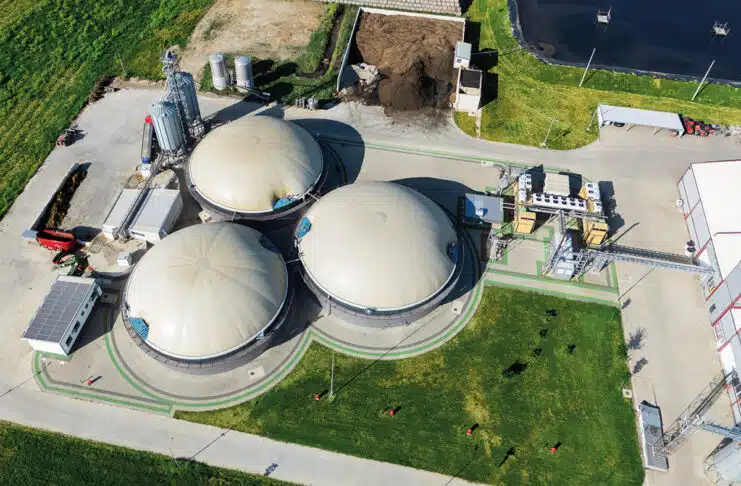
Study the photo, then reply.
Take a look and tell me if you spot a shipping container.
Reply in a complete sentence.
Yes, a shipping container appears in the view.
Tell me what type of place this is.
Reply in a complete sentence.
What you see here is an industrial area.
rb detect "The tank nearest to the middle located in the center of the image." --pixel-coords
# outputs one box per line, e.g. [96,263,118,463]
[299,181,460,328]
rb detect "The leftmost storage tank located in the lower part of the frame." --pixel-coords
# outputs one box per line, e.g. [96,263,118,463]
[123,221,288,375]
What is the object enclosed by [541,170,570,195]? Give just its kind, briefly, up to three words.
shed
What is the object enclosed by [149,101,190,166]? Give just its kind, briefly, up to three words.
silo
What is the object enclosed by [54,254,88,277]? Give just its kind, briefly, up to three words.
work vehicle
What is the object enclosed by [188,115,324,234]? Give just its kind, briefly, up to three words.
storage tank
